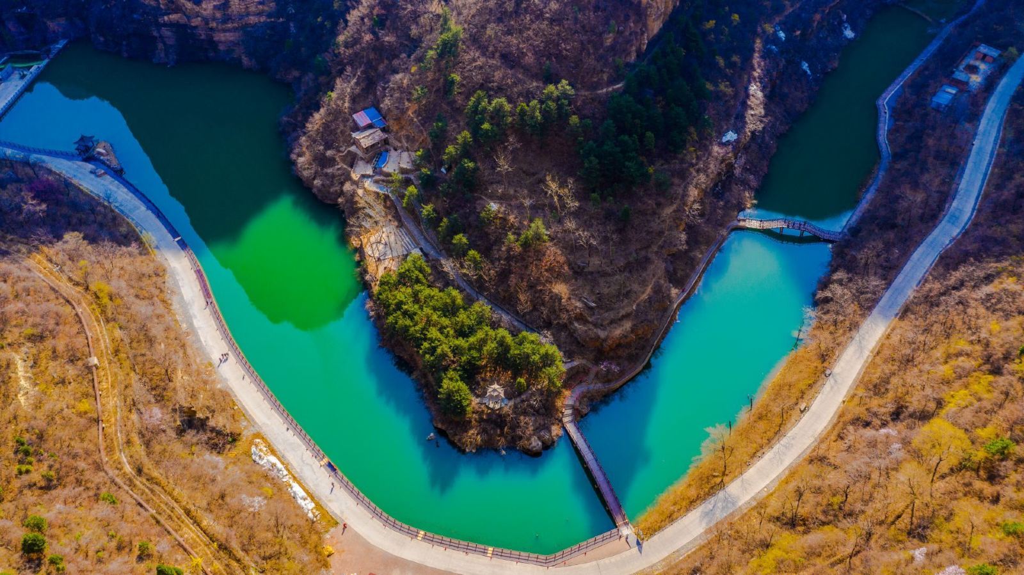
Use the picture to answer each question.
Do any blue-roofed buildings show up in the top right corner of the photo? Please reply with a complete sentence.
Yes, a blue-roofed building is visible in the top right corner of the photo.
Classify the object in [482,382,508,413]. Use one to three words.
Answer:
building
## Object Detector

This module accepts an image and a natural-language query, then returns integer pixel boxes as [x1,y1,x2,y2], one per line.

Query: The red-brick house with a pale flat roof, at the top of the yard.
[972,44,1001,67]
